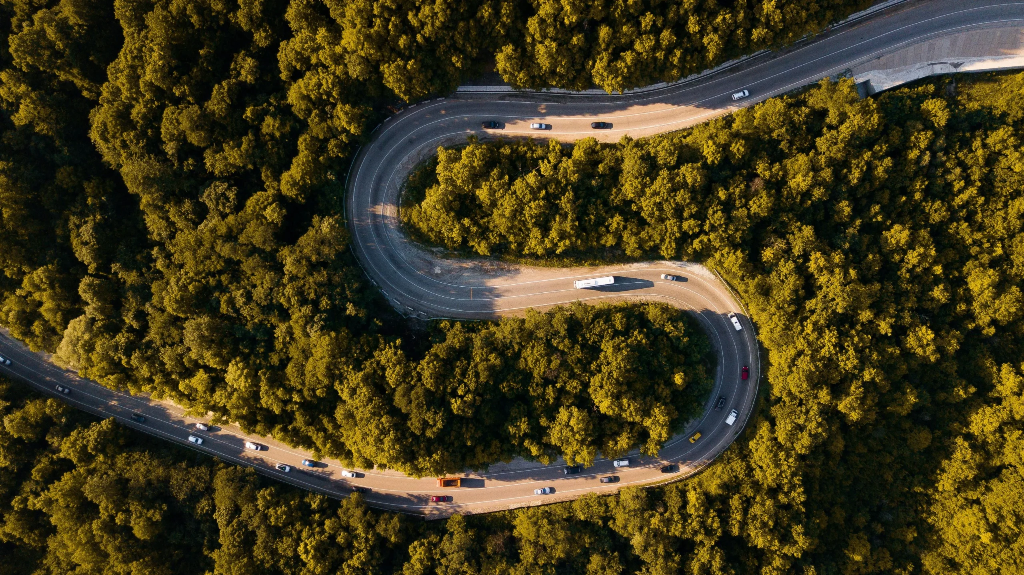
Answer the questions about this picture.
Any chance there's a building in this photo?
No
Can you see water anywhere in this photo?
No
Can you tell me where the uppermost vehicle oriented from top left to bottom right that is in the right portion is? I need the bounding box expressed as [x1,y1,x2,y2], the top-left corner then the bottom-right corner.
[729,313,744,332]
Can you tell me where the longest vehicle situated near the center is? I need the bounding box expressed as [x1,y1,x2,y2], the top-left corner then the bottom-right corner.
[573,275,616,289]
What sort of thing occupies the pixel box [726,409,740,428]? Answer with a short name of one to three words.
vehicle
